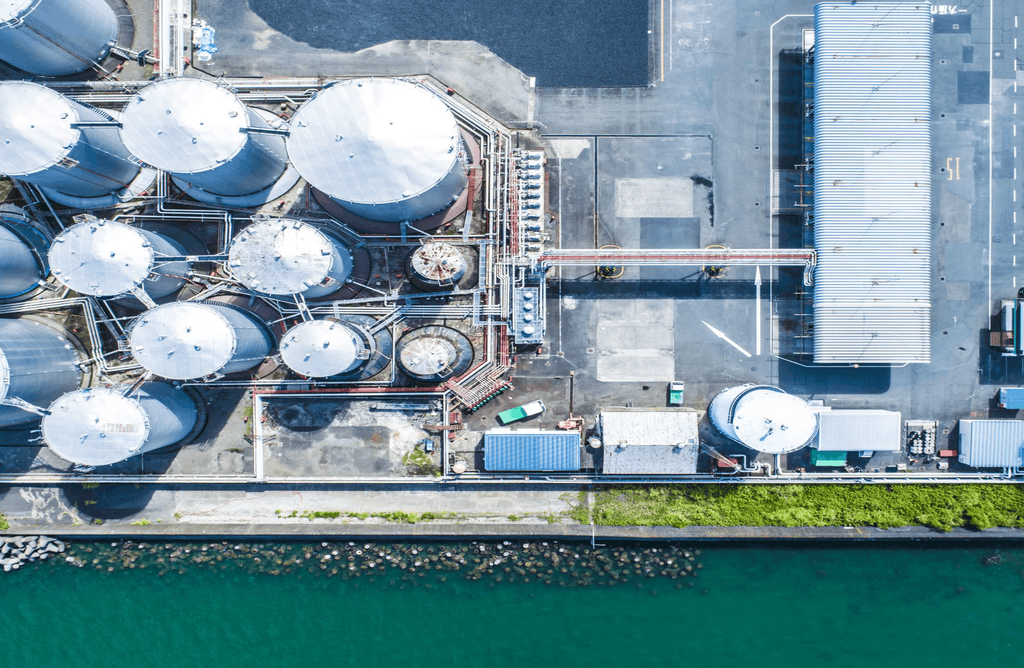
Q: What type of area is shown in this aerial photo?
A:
industrial area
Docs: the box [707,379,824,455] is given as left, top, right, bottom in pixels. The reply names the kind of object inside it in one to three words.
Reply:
storage tank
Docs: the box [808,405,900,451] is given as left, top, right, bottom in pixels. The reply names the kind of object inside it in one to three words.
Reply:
building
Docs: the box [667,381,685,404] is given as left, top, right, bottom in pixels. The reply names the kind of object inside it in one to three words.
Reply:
vehicle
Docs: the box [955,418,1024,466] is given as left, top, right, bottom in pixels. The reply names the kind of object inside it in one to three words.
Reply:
shed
